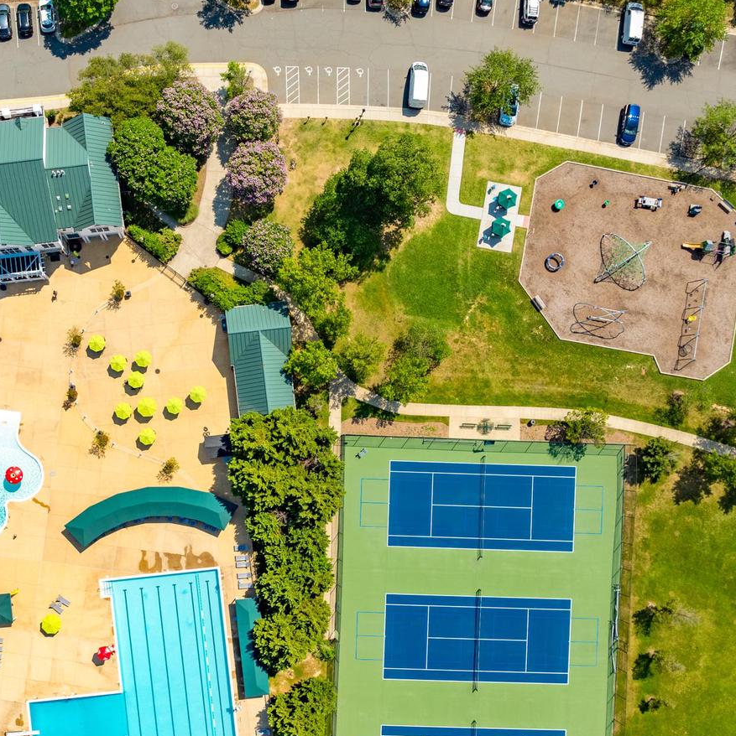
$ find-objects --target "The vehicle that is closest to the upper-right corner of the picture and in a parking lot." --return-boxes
[619,2,645,51]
